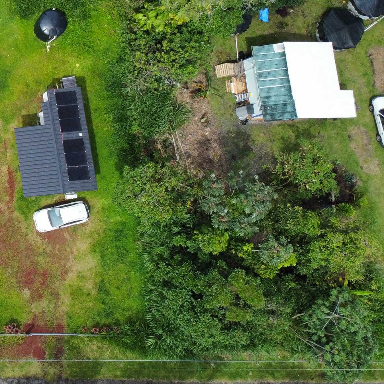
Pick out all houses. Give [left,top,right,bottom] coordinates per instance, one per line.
[239,40,358,122]
[14,88,98,197]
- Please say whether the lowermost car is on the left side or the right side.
left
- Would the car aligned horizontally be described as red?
No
